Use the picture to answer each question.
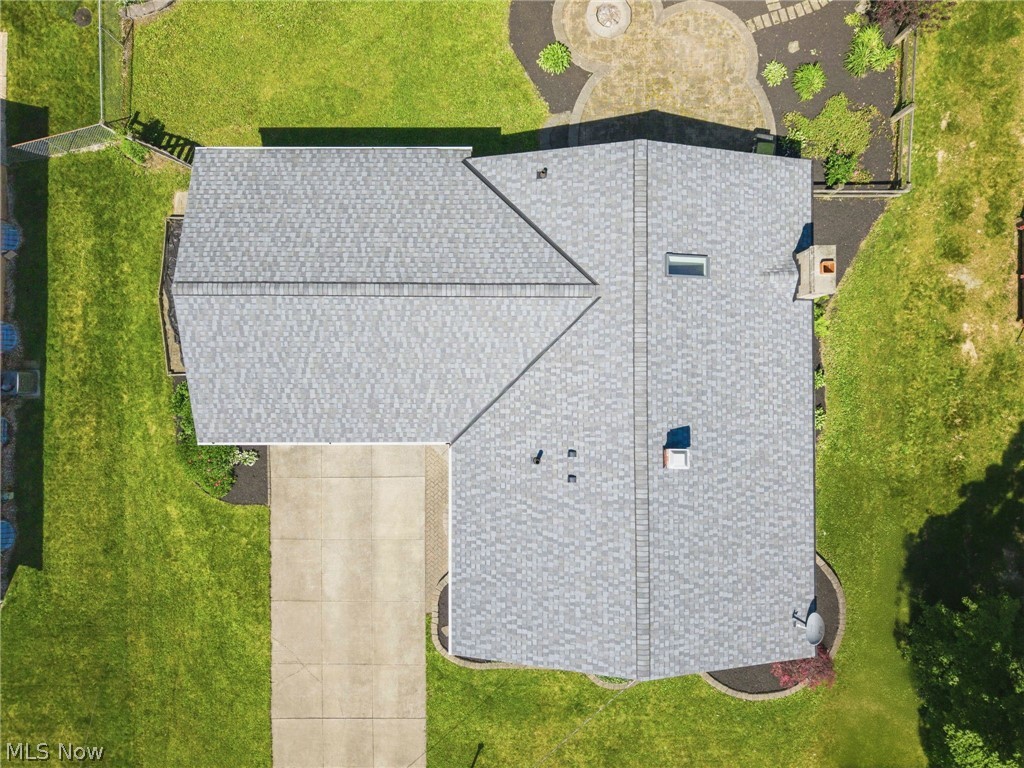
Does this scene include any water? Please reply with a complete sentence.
No, water can't be seen anywhere here.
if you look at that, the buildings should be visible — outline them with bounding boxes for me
[171,140,835,680]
